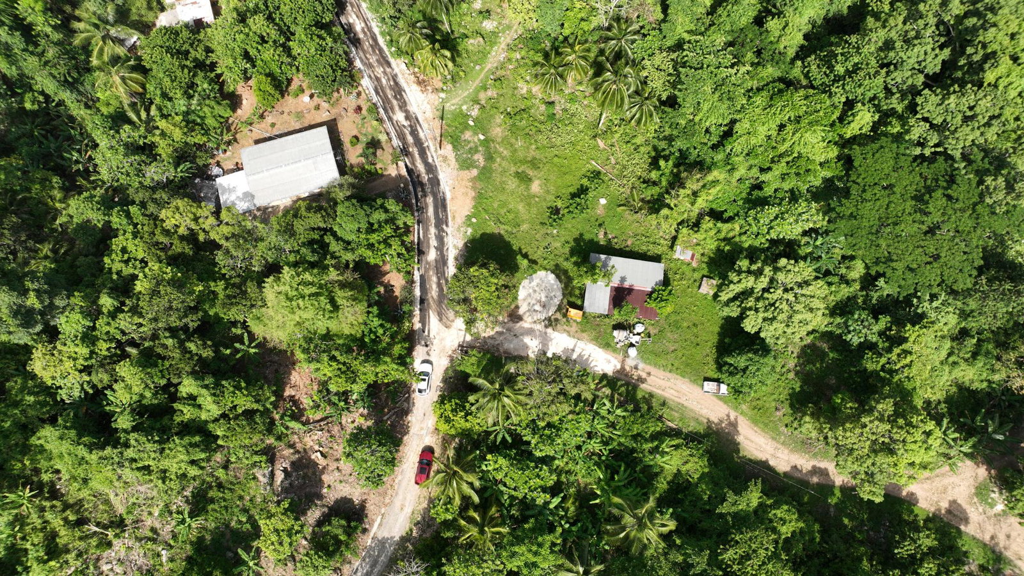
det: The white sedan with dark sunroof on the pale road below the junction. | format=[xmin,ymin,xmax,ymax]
[417,361,435,396]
